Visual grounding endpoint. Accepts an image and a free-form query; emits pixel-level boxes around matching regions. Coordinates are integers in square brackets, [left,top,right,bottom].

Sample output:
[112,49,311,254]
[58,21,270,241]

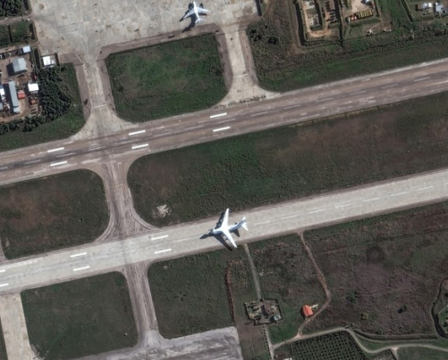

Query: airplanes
[184,0,210,24]
[210,207,248,246]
